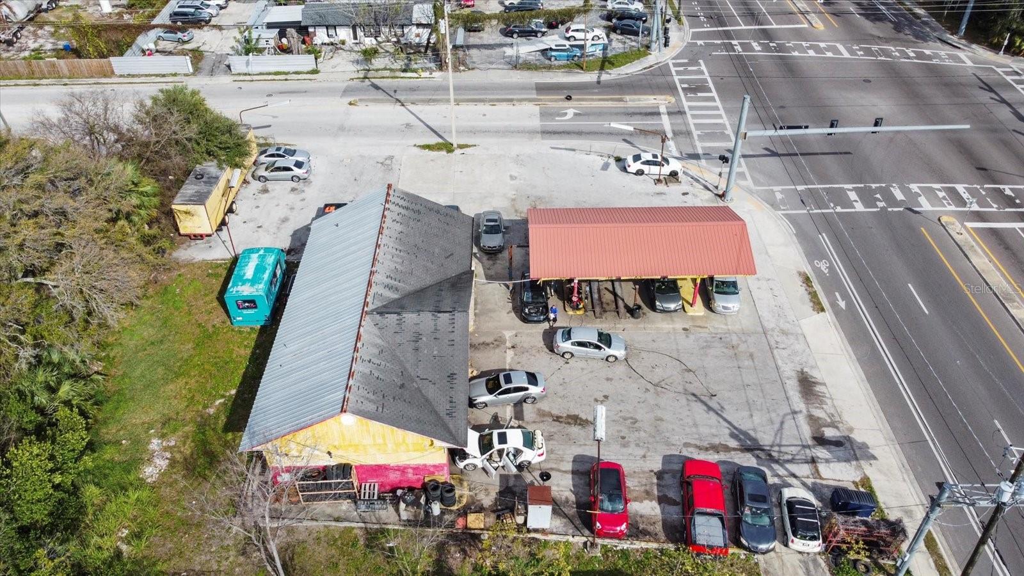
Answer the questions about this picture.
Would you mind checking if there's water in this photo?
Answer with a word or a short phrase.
No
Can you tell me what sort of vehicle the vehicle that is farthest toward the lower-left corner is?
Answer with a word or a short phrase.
truck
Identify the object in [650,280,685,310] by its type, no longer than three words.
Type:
car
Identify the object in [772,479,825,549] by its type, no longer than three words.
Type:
car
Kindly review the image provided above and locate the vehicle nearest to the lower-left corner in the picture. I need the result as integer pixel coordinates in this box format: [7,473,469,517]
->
[225,253,289,327]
